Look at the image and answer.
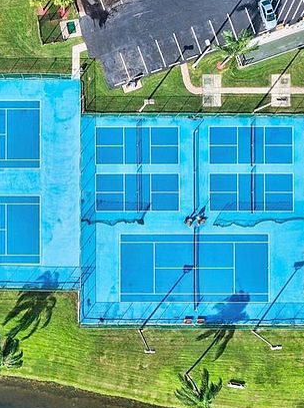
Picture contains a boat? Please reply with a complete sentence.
No, there is no boat in the image.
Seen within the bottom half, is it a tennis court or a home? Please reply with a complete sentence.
There is a tennis court within the bottom half.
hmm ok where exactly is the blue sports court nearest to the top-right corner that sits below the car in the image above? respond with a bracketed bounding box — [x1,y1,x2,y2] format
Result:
[210,127,293,164]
